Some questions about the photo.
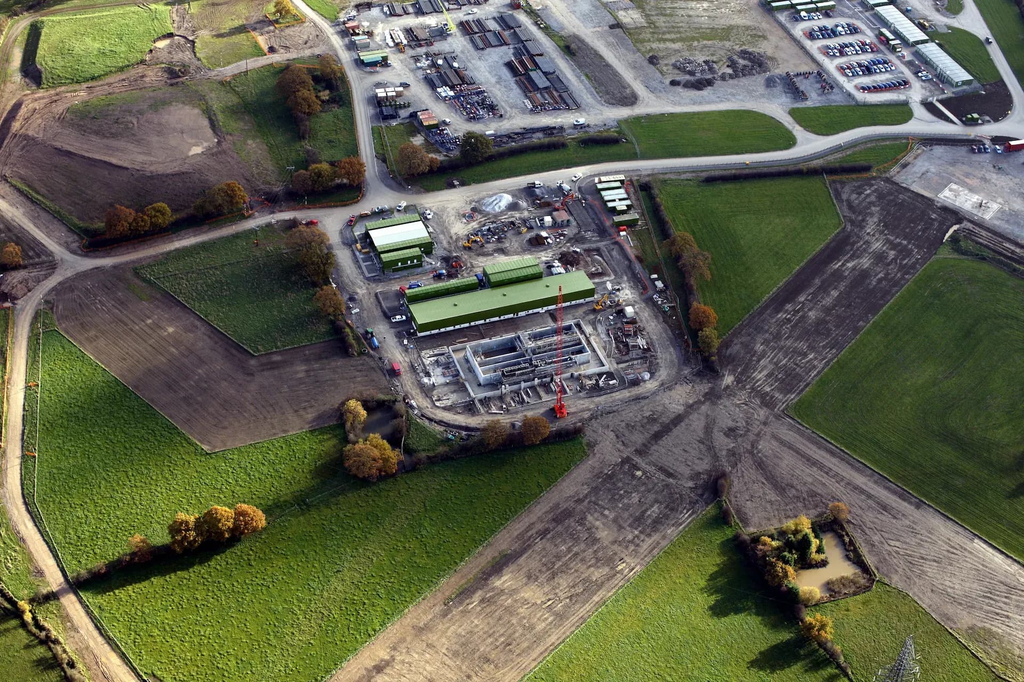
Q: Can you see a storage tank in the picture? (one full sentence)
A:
Yes, the image includes a storage tank.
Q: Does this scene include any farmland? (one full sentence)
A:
Yes, the picture does contain farmland.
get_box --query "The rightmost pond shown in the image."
[796,533,860,595]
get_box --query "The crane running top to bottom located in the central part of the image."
[553,286,568,421]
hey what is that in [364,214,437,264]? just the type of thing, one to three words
building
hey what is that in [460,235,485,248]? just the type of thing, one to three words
vehicle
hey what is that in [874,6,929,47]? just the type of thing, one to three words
building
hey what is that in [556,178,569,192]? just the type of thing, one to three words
vehicle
